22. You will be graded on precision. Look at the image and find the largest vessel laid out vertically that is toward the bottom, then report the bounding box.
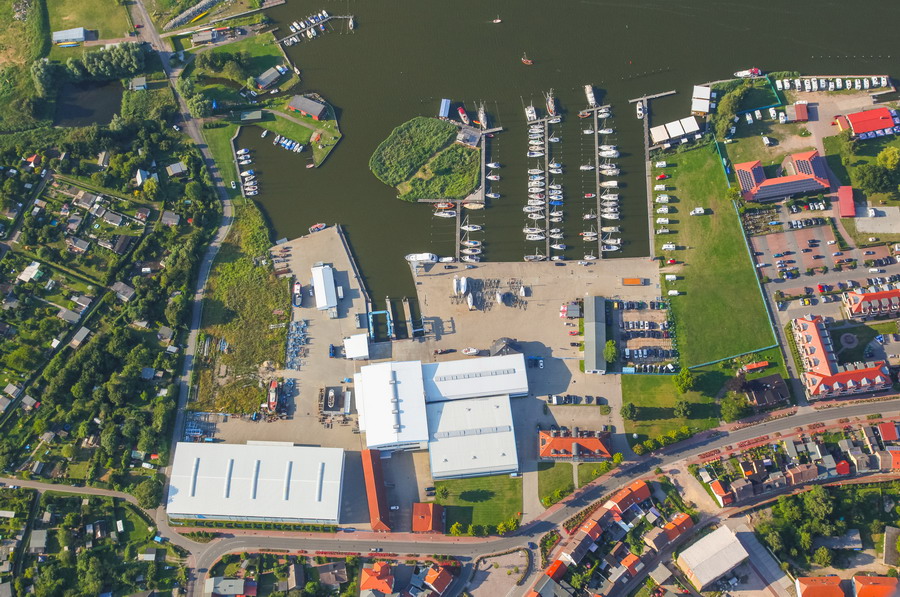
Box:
[265,375,281,413]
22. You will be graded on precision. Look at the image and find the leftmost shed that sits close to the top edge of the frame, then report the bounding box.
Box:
[53,26,84,43]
